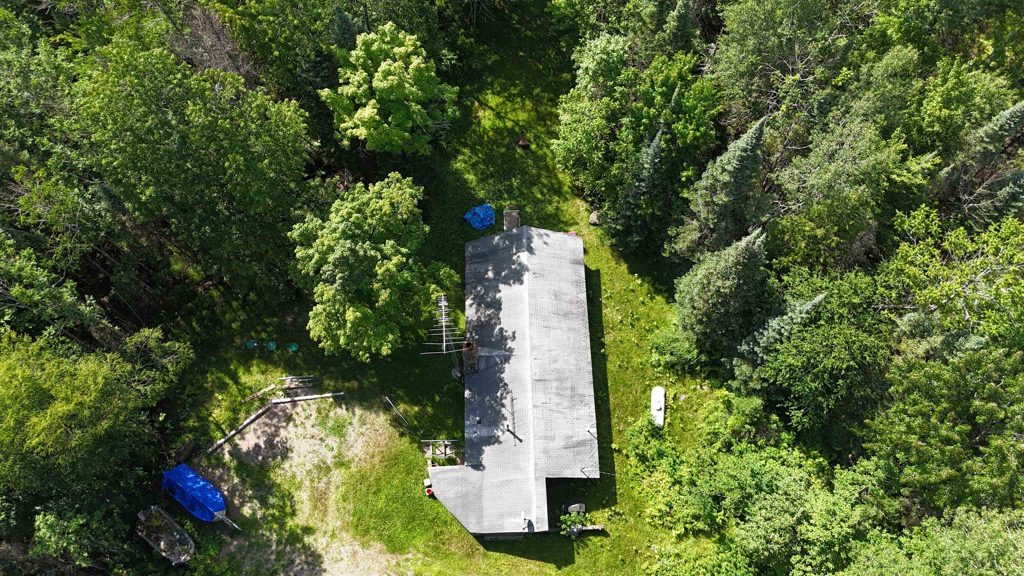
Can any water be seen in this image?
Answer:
No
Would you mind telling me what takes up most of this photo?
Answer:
trees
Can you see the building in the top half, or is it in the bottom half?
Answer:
bottom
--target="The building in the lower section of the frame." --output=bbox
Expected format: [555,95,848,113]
[428,228,600,534]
